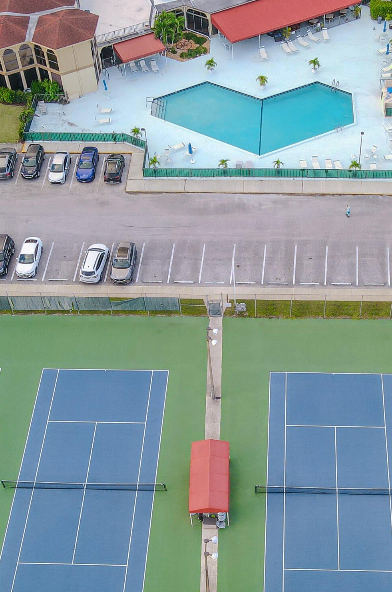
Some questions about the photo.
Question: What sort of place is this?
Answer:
sports ground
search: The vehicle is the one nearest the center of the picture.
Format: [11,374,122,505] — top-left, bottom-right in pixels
[109,239,136,282]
